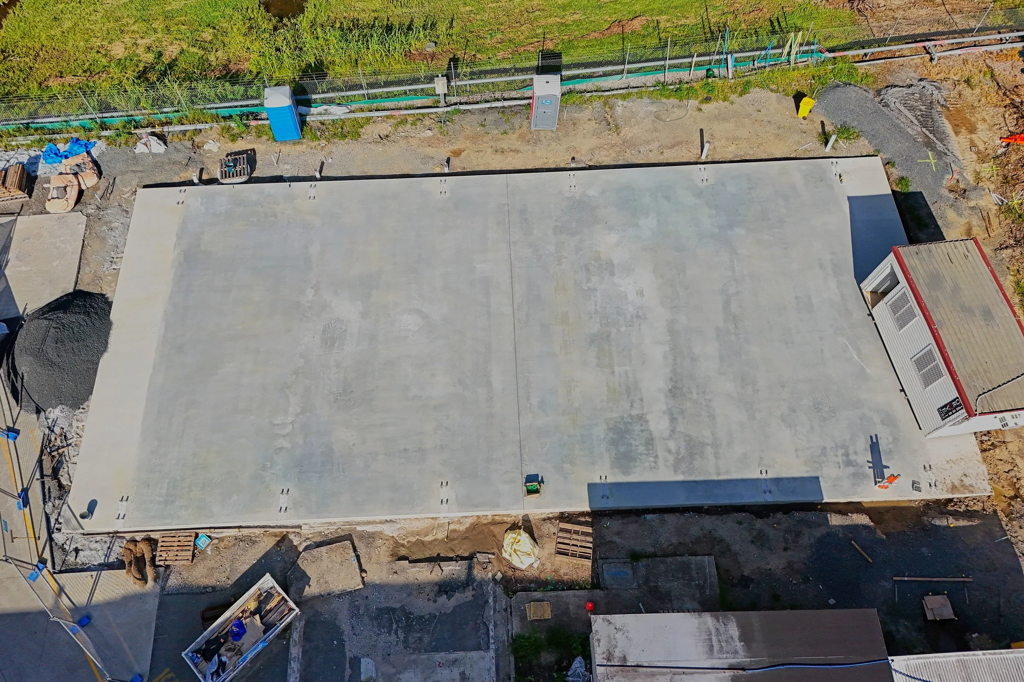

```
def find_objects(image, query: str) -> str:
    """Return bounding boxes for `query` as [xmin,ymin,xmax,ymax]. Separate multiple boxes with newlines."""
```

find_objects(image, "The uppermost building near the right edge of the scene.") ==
[859,233,1024,438]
